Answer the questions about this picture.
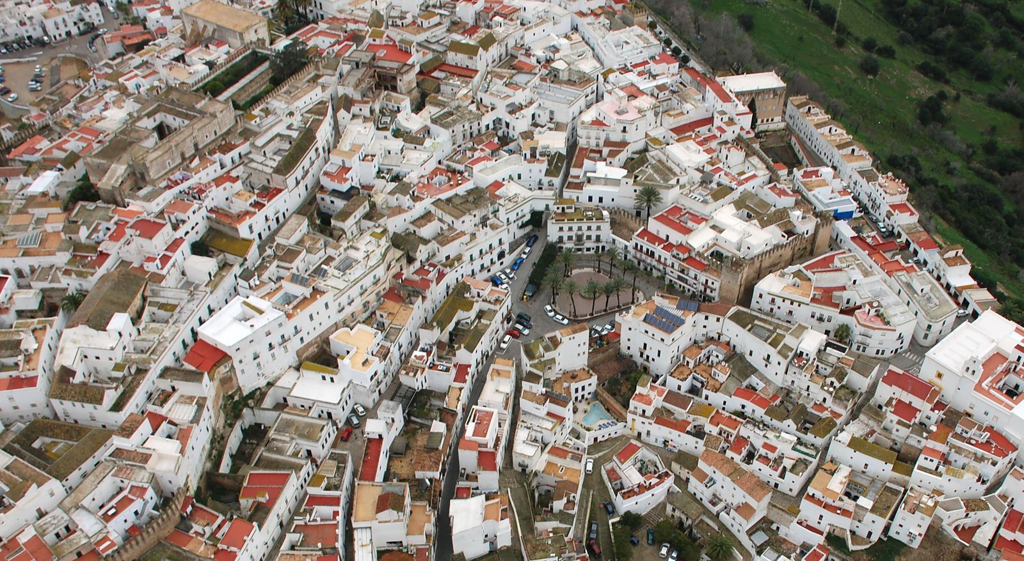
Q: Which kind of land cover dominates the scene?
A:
buildings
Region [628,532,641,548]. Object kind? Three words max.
vehicle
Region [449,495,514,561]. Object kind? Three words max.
house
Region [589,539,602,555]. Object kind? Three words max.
vehicle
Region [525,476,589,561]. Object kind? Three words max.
house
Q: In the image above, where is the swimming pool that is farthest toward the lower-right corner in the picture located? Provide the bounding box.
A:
[571,392,628,443]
